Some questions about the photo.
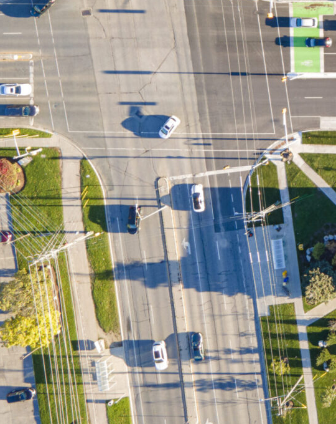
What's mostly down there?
paved ground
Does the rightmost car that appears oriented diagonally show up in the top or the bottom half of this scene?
top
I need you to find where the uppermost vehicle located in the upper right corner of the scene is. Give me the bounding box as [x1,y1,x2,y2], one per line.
[292,16,318,29]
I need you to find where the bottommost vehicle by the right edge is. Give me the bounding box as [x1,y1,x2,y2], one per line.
[304,36,332,49]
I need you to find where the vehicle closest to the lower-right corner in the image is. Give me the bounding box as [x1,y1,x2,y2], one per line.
[189,332,204,361]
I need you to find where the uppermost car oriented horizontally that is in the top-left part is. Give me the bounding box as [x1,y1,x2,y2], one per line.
[0,84,29,97]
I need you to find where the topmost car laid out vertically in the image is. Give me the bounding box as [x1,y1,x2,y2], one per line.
[191,182,205,211]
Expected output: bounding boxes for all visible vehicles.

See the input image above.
[304,36,332,49]
[153,340,168,369]
[191,182,205,211]
[6,387,36,402]
[0,84,29,97]
[292,16,318,29]
[30,0,58,19]
[0,230,10,243]
[126,204,141,232]
[158,112,181,140]
[189,332,204,361]
[4,104,40,118]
